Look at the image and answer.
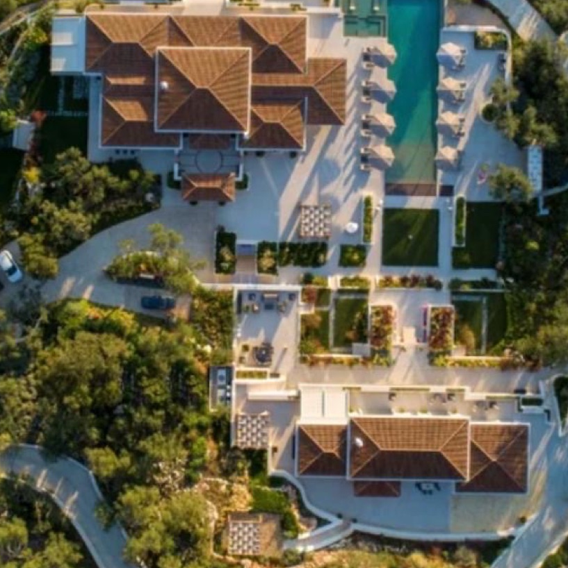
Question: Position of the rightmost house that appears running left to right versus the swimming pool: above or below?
below it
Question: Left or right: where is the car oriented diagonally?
left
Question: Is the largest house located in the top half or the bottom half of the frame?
top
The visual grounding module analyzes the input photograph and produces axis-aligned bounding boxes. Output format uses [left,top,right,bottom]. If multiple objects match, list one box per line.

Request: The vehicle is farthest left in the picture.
[0,249,23,281]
